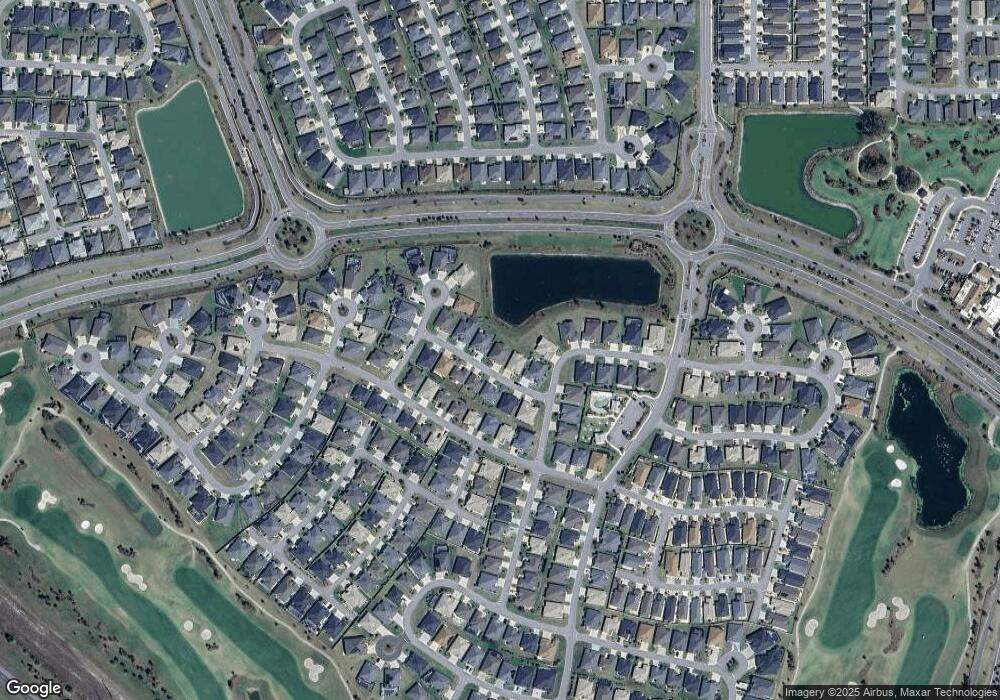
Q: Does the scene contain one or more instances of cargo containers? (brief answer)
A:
No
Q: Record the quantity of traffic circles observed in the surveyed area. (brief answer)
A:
2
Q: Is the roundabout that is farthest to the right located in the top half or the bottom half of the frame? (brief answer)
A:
top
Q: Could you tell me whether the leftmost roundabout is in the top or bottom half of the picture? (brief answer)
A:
top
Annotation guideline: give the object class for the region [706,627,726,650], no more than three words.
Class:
house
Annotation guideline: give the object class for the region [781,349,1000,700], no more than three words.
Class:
golf course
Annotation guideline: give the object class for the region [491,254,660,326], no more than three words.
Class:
pond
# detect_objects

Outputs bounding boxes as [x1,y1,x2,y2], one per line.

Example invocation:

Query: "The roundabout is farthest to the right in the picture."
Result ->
[664,200,726,262]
